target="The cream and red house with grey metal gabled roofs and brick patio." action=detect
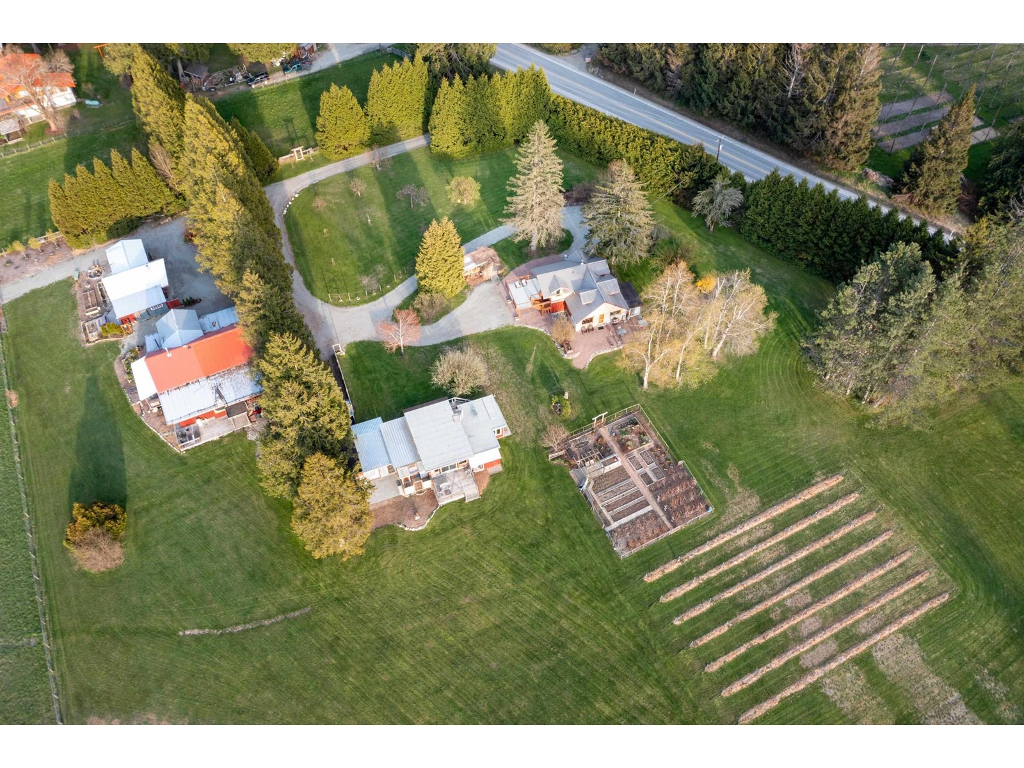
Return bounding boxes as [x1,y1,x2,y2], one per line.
[506,249,642,330]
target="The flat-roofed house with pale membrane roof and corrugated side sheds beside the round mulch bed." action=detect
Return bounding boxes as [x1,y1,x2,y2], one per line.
[353,395,513,510]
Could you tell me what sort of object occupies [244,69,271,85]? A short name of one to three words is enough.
car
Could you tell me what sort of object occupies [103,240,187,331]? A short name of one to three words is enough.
shed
